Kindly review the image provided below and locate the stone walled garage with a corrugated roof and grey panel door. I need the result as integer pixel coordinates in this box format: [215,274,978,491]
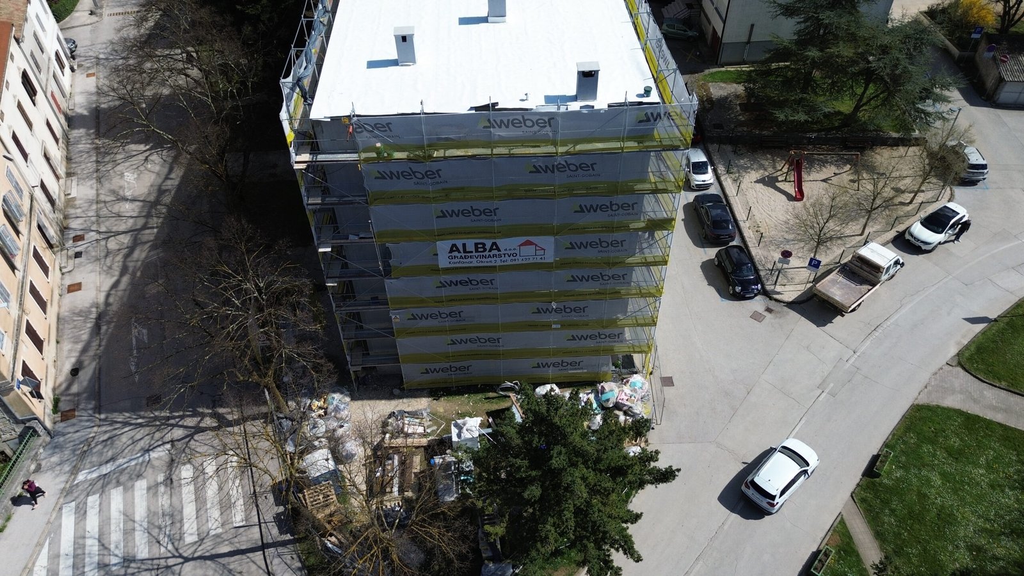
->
[971,30,1024,104]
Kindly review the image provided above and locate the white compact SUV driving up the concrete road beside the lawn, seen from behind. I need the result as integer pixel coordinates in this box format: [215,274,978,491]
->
[742,432,825,514]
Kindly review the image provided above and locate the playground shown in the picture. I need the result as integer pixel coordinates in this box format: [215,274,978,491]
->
[691,127,959,302]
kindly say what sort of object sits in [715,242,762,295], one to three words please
car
